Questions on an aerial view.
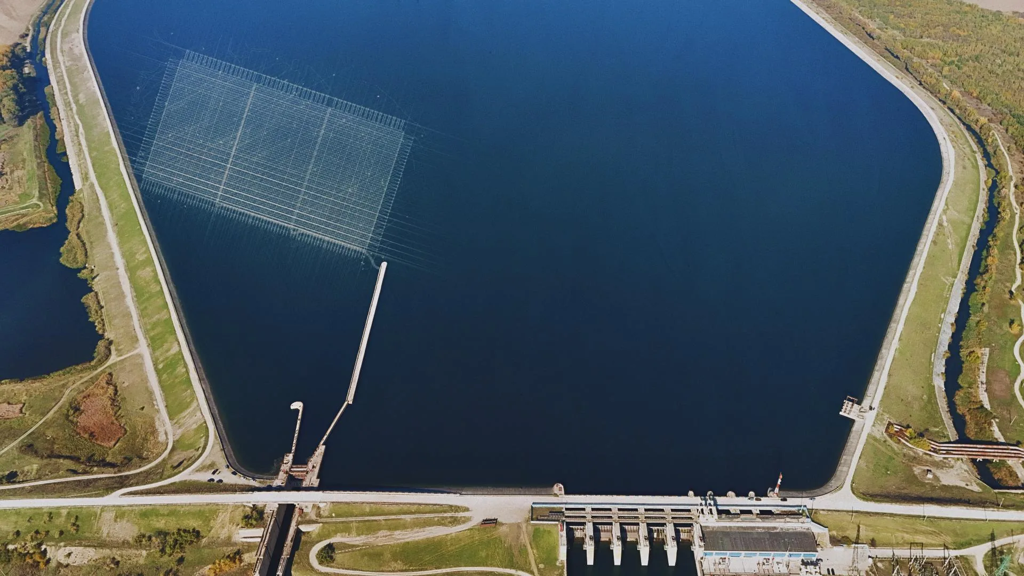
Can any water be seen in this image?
Yes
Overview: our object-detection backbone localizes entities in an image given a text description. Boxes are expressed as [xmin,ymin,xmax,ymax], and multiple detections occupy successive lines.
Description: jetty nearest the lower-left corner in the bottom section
[273,454,294,489]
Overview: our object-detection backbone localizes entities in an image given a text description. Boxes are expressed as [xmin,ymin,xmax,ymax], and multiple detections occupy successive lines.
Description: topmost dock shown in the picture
[346,262,387,405]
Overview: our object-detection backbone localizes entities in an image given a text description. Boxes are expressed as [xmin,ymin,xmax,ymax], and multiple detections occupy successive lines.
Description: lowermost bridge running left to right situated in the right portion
[559,508,702,524]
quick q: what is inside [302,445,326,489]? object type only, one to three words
pier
